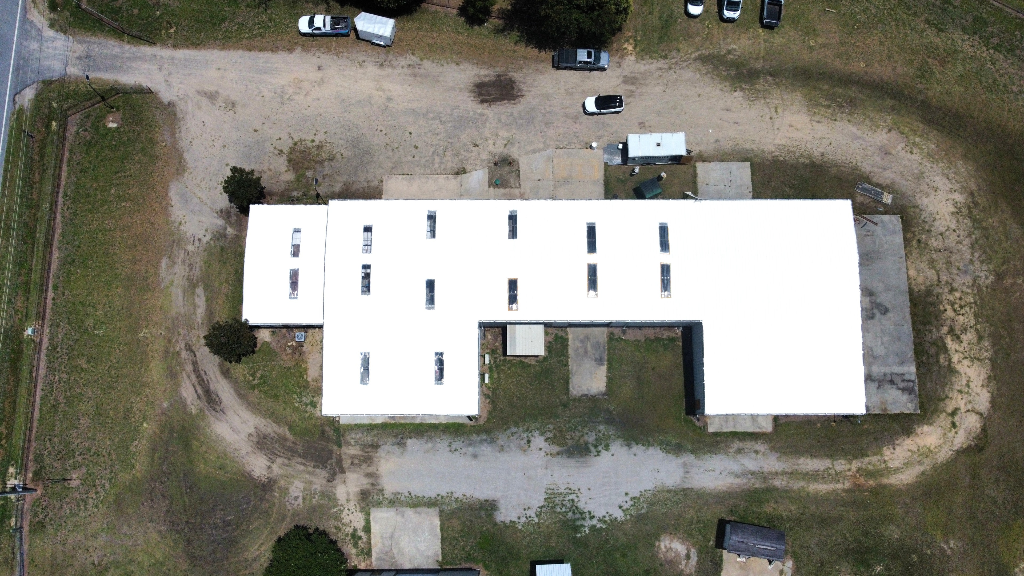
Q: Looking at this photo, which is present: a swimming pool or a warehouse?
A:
warehouse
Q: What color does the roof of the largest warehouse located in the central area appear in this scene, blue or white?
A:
white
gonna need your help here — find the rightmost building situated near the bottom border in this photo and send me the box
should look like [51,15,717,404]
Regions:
[723,521,786,563]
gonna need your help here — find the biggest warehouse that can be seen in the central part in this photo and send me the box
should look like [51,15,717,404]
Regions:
[242,199,867,424]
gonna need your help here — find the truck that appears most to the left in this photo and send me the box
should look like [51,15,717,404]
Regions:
[298,14,353,37]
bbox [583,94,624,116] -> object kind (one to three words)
car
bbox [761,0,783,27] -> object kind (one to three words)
truck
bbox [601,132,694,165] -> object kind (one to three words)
trailer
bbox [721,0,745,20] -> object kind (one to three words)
vehicle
